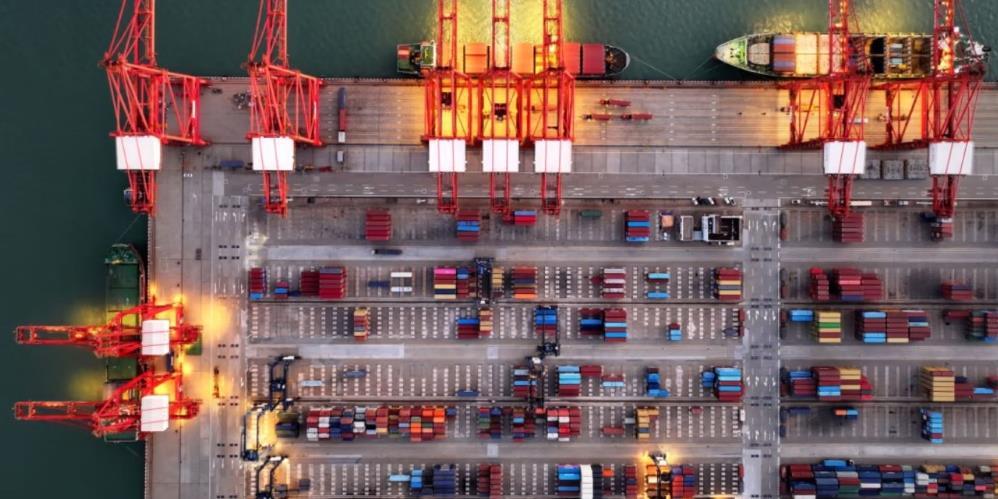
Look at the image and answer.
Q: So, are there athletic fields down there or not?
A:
No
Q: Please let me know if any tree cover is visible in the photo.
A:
No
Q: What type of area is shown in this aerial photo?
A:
port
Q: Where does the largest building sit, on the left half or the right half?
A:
right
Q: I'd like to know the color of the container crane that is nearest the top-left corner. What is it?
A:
red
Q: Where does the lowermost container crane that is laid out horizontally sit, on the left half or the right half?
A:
left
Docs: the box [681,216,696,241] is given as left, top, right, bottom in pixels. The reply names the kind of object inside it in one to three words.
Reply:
building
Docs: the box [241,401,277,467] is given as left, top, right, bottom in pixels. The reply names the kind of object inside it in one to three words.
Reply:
crane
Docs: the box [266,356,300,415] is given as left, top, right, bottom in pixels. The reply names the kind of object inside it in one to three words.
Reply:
crane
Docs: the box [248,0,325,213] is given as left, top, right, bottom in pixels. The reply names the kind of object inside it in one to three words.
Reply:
container crane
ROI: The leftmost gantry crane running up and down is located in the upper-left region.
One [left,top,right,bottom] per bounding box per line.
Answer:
[103,0,207,213]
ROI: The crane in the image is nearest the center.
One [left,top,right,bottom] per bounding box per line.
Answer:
[473,255,497,309]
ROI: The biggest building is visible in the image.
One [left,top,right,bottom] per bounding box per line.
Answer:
[703,214,747,244]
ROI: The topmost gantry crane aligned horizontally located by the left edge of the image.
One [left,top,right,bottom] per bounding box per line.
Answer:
[17,301,204,356]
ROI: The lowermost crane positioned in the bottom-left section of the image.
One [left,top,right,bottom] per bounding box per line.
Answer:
[254,457,289,499]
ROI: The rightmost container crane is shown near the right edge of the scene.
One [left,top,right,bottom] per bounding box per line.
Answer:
[871,0,990,213]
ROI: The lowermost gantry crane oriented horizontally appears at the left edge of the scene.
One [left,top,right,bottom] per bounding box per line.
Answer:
[17,367,204,435]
